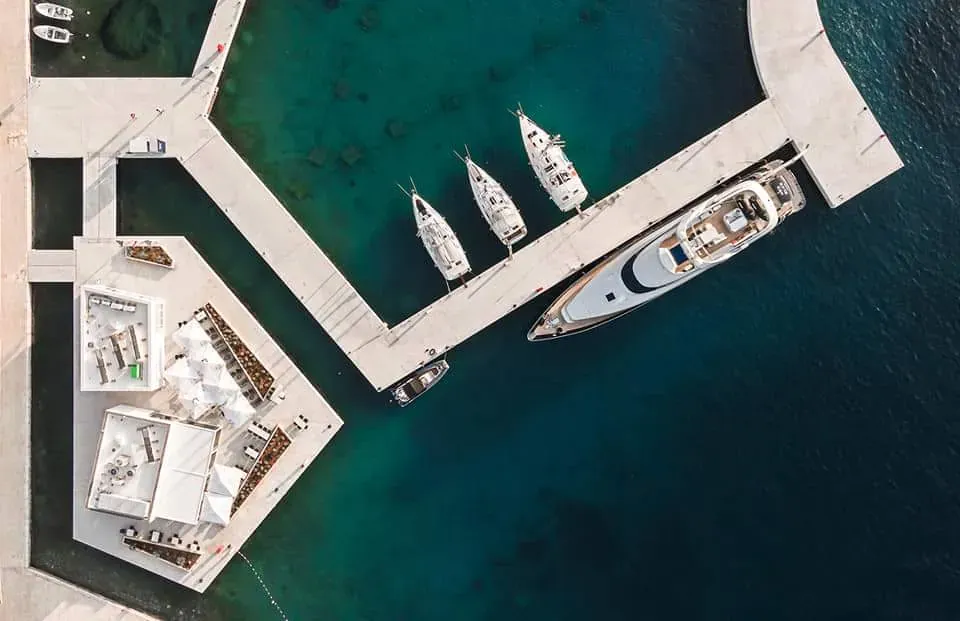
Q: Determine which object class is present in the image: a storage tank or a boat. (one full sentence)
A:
Of the two, only a boat appears.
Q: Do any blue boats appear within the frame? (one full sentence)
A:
No, this view has no blue boat in it.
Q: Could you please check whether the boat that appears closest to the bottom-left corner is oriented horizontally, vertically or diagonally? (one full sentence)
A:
The boat that appears closest to the bottom-left corner is laid out diagonally.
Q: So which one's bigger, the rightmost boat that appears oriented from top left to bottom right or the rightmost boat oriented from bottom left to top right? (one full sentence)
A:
The rightmost boat oriented from bottom left to top right is bigger than the rightmost boat that appears oriented from top left to bottom right.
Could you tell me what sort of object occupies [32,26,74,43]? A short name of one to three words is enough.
boat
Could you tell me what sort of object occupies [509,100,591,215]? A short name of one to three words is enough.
boat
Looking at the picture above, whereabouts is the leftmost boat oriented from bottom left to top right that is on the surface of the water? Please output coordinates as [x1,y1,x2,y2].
[392,355,449,406]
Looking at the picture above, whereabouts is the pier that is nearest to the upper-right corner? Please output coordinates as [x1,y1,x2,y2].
[744,0,903,209]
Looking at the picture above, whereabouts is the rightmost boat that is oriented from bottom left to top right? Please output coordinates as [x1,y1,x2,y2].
[527,140,807,339]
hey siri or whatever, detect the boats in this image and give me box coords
[392,355,449,406]
[456,145,532,249]
[32,26,74,43]
[404,180,477,293]
[30,4,84,22]
[509,100,591,215]
[527,140,807,339]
